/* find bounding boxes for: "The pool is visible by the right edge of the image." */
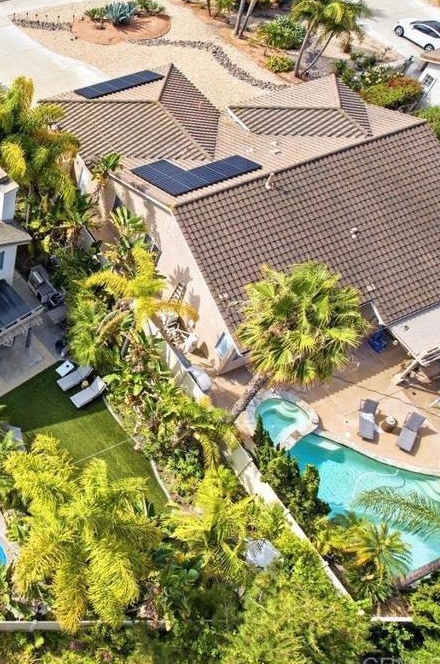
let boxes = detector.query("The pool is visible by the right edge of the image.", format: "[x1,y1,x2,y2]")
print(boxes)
[281,426,440,589]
